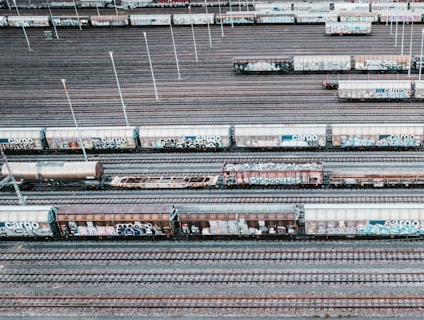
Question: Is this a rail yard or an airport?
rail yard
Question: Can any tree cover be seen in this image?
No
